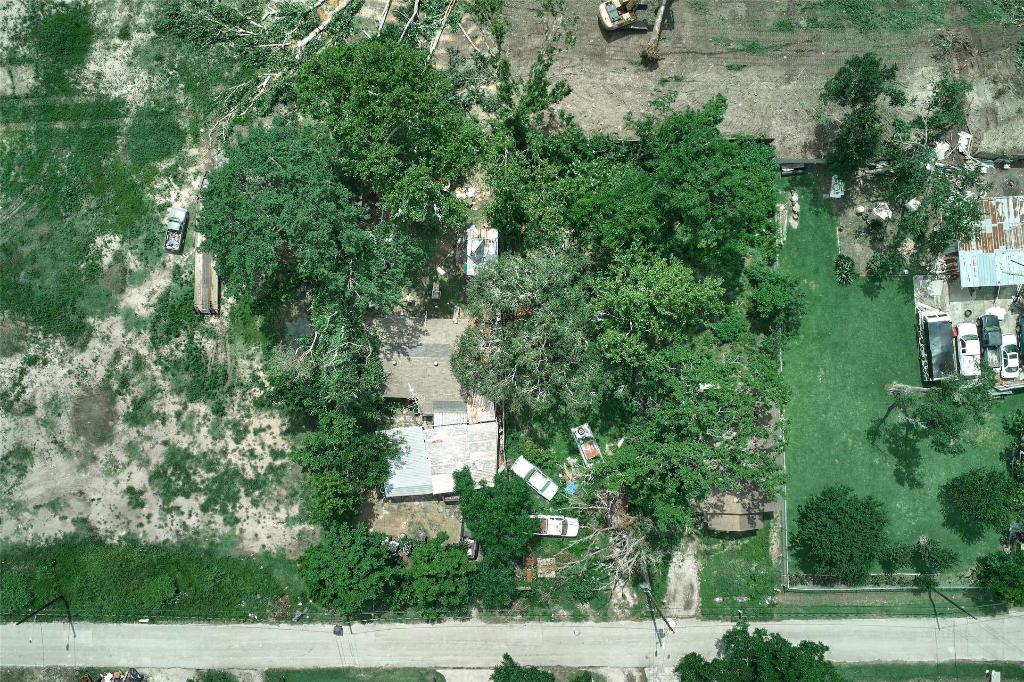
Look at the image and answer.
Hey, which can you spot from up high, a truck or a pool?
truck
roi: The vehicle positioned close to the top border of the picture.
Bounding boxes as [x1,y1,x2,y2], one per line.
[600,0,641,37]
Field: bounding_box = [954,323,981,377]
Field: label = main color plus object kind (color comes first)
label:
white truck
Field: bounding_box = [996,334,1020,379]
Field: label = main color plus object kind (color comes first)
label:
white car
